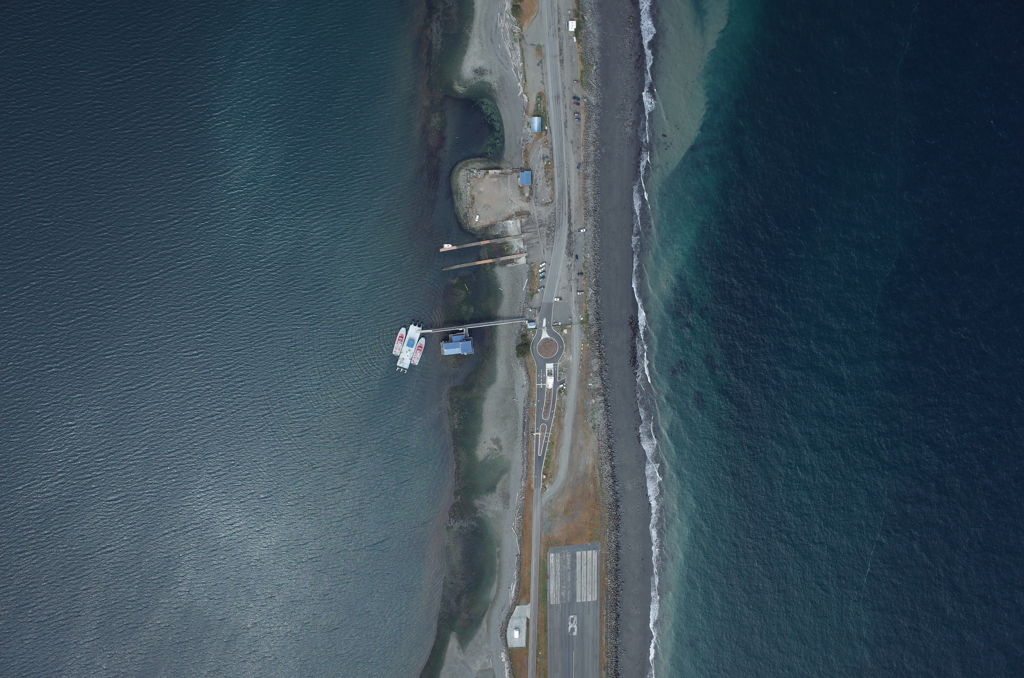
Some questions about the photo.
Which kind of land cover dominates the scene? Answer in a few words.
water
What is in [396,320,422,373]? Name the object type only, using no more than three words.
ship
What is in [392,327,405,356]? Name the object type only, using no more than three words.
boat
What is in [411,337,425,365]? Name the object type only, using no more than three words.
boat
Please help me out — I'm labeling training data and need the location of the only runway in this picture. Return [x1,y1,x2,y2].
[547,543,600,678]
